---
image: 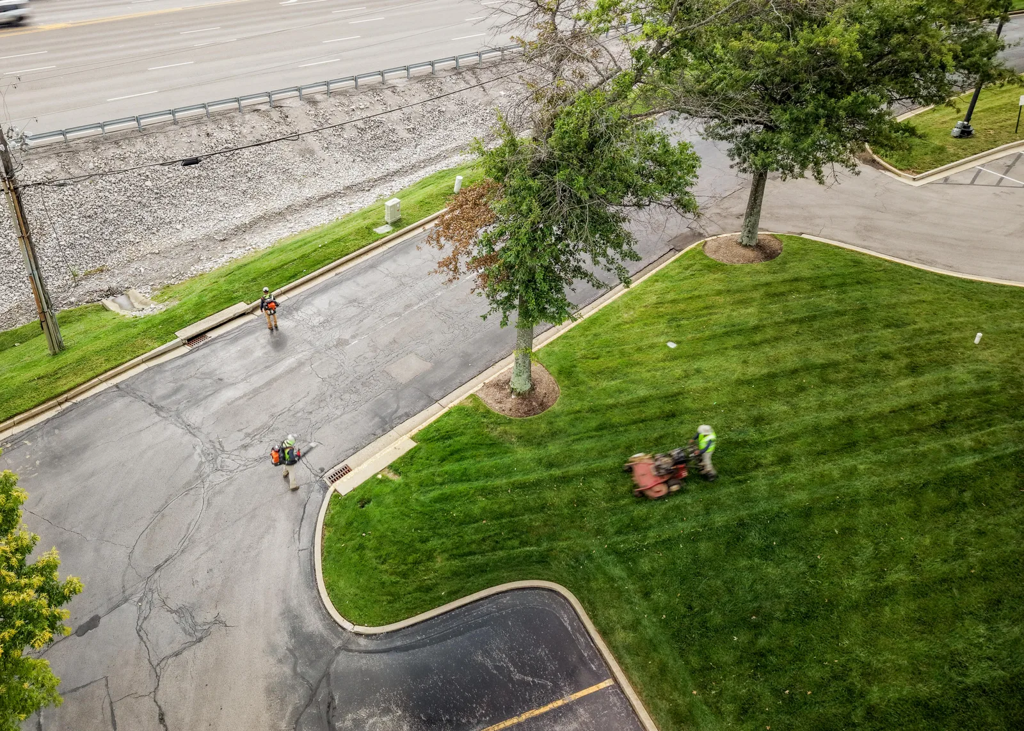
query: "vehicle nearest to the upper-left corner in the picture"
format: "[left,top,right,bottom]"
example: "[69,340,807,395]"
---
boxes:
[0,3,25,27]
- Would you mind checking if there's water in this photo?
No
